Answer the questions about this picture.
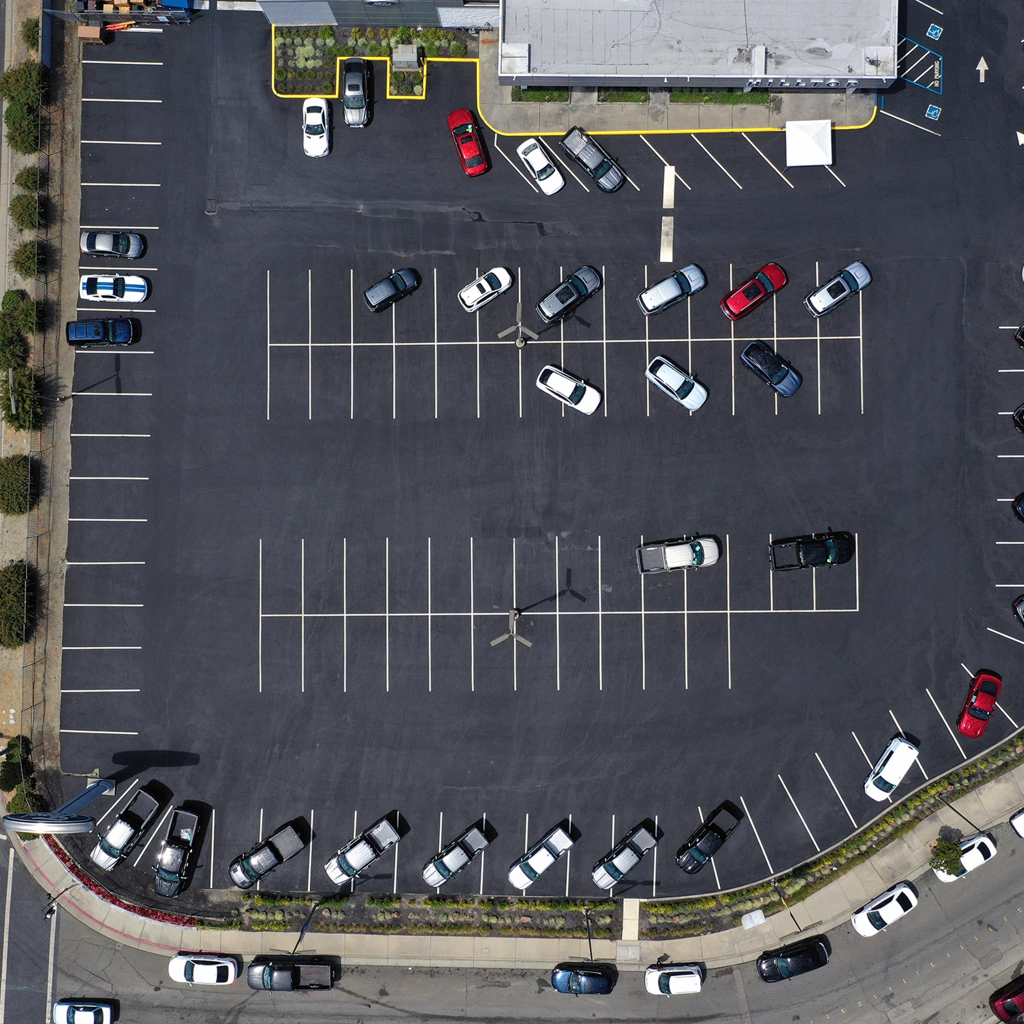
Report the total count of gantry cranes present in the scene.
0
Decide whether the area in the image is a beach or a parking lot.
parking lot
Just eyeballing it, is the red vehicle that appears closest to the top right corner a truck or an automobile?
automobile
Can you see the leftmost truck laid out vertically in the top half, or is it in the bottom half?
bottom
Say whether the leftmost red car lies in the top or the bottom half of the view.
top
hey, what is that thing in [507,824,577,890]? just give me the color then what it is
white truck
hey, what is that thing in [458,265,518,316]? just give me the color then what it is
white car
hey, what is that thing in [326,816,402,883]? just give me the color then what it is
white truck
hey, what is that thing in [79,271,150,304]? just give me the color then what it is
white car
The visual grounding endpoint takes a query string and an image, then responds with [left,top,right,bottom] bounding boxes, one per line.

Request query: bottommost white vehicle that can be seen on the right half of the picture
[643,963,702,1001]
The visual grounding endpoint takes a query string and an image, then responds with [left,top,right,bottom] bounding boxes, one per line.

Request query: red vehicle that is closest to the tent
[718,263,787,323]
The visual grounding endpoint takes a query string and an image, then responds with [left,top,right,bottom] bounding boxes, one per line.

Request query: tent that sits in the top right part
[779,120,832,175]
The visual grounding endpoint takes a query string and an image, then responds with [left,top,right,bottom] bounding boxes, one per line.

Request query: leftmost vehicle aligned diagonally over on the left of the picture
[91,786,163,870]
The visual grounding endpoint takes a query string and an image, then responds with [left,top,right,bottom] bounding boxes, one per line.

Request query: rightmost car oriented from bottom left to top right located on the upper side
[802,262,871,322]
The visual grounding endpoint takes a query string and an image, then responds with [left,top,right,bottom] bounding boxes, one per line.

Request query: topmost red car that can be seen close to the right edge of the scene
[957,672,1002,739]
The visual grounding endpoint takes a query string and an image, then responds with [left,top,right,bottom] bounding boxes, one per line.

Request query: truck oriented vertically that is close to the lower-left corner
[150,805,202,896]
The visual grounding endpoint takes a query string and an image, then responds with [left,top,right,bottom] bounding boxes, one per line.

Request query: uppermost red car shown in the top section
[449,109,488,179]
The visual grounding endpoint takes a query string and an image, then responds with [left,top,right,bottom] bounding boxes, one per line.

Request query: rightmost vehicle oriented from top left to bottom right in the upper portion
[738,341,799,398]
